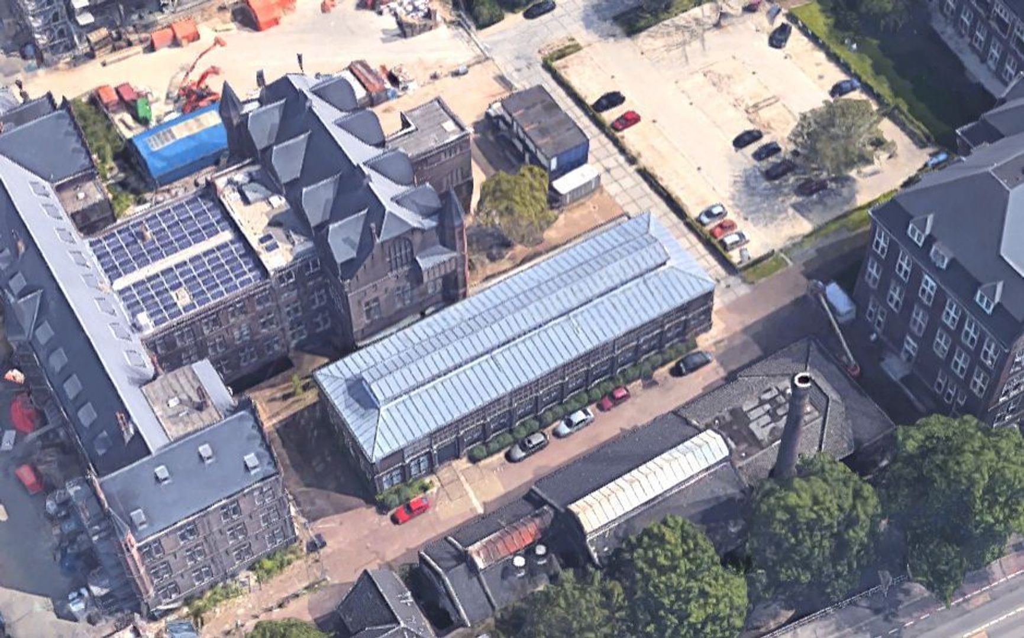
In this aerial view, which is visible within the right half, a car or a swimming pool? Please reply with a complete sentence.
Visible within the right half is a car.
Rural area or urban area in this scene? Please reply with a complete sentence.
The land in this view is best described as urban.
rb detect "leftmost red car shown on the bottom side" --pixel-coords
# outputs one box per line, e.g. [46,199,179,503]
[388,494,434,528]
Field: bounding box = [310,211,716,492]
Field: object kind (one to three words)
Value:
building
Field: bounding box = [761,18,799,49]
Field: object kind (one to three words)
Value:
car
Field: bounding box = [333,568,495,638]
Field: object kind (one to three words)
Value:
house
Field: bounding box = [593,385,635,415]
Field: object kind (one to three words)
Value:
car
